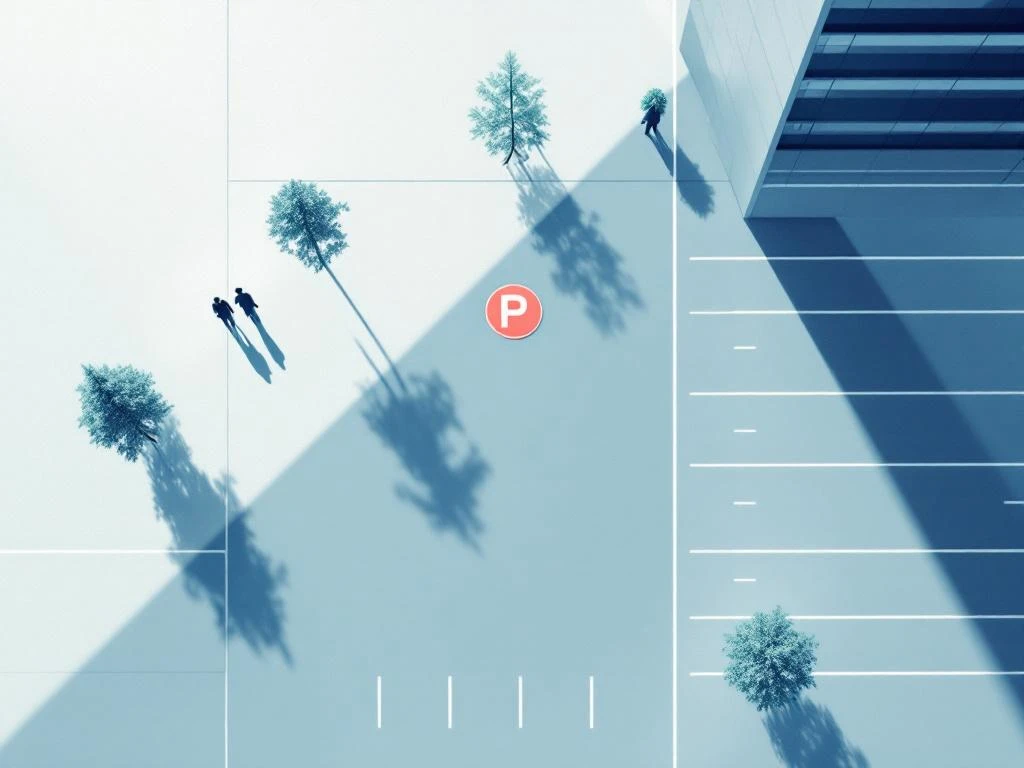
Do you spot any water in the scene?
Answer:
No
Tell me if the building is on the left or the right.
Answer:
right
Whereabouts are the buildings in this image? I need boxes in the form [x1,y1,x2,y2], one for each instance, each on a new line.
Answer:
[680,0,1024,217]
